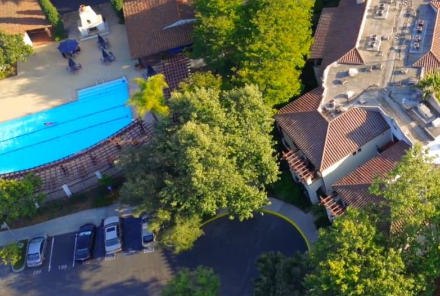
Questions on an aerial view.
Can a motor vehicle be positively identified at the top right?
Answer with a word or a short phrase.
No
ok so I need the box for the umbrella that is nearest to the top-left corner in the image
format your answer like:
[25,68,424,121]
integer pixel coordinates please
[54,34,79,54]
